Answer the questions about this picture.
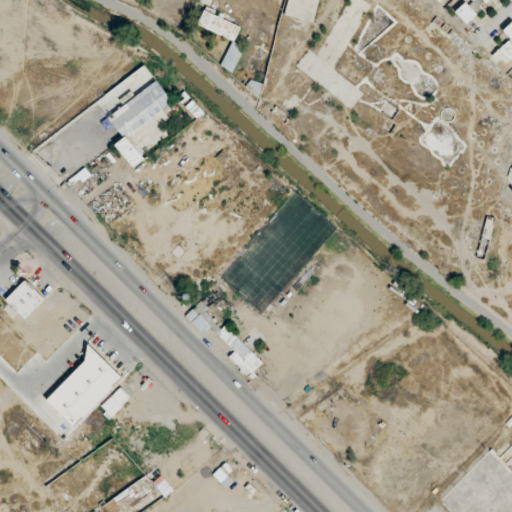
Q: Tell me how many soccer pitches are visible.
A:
1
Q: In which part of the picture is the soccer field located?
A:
center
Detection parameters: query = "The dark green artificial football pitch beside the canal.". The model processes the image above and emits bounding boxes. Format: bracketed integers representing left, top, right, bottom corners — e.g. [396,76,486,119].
[224,193,336,311]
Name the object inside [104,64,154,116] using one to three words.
building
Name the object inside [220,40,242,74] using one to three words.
barn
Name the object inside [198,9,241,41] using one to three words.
house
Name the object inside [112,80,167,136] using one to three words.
building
